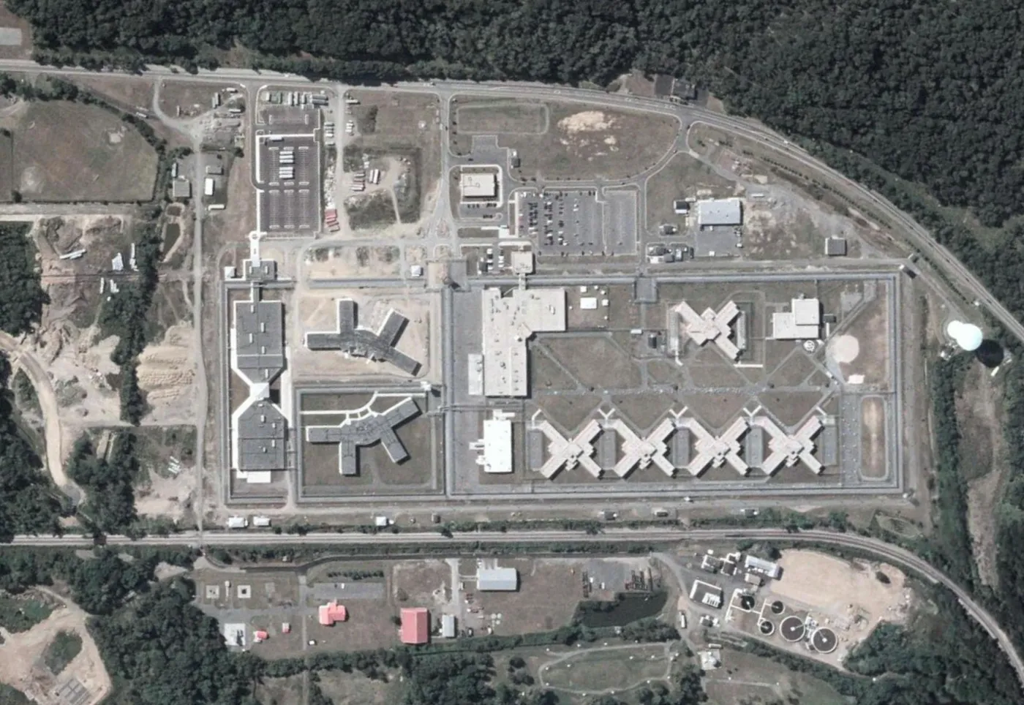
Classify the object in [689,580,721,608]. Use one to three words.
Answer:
house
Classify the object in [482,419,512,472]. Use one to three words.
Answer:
building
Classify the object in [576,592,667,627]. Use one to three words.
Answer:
pond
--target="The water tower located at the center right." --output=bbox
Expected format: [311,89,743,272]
[948,321,982,350]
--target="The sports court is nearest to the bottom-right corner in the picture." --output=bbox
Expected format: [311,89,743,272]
[823,426,837,464]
